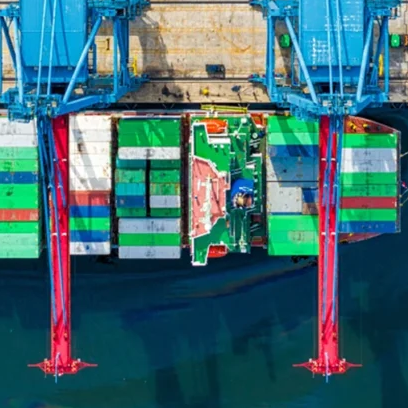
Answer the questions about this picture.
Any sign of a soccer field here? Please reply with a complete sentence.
No, no soccer field can be seen from above.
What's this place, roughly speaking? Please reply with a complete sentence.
The picture captures a port.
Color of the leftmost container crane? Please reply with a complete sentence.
From above, the leftmost container crane appears blue.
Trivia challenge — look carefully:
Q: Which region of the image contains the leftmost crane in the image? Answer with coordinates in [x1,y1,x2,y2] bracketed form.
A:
[0,0,153,383]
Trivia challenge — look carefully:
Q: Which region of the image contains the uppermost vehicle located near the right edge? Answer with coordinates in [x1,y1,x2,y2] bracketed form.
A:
[389,32,408,46]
